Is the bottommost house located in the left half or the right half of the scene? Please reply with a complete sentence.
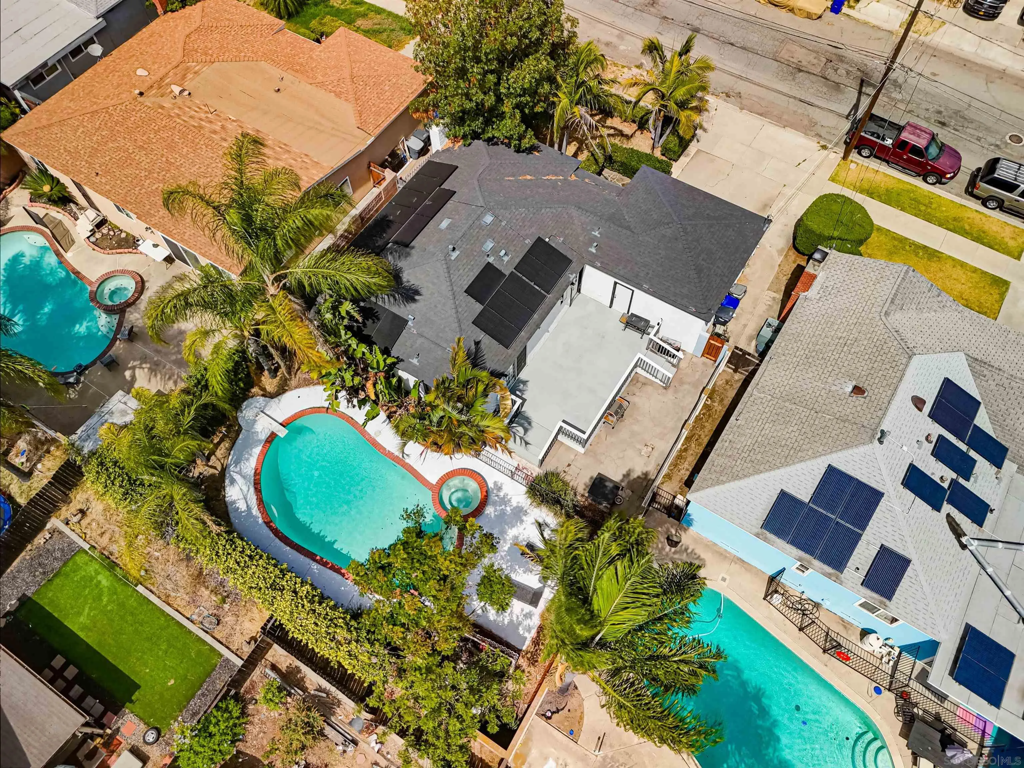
You can find the bottommost house on the left side of the picture.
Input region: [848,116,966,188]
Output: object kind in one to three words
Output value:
truck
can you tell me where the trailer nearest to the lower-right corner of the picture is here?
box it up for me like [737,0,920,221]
[588,473,637,509]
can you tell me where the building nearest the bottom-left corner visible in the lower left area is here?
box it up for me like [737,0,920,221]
[0,636,104,768]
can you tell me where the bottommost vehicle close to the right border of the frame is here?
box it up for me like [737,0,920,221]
[974,162,1024,216]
